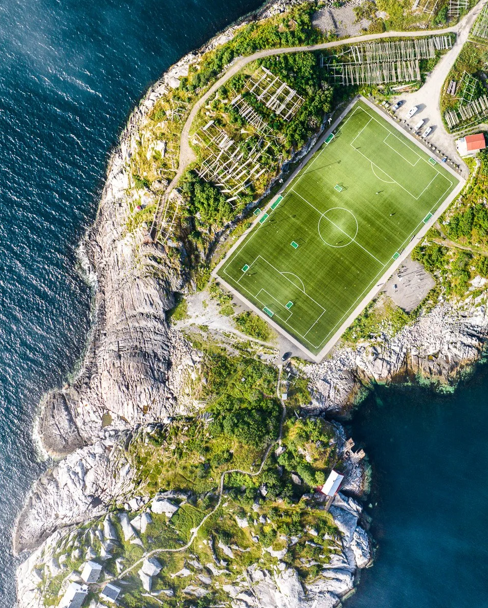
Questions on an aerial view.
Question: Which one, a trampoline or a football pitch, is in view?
football pitch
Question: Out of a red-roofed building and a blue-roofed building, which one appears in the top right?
red-roofed building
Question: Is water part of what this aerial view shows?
Yes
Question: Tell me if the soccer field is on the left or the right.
right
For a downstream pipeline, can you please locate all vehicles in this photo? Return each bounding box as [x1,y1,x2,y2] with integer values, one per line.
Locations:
[422,126,432,138]
[406,104,418,118]
[394,101,402,110]
[282,352,289,361]
[414,119,425,131]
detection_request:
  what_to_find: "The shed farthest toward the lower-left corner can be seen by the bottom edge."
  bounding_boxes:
[61,585,87,608]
